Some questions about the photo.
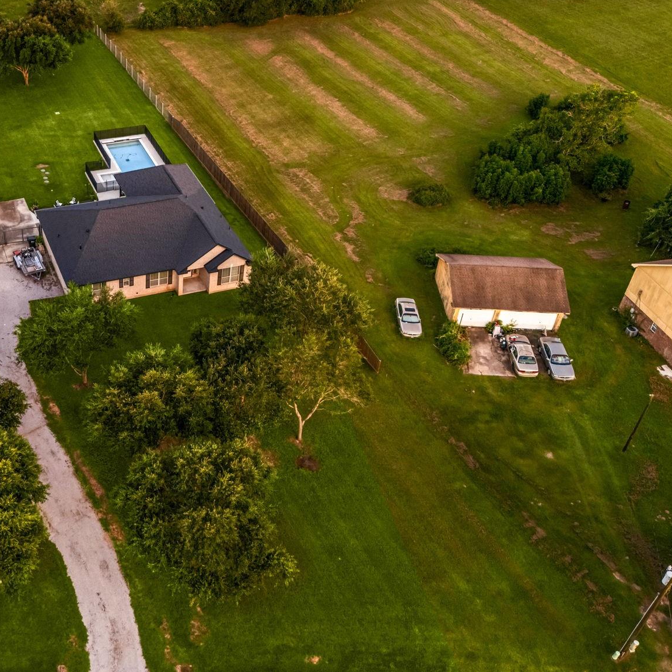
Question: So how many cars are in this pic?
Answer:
3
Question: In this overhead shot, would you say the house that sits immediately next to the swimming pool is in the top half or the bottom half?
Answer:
top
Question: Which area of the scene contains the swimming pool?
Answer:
top left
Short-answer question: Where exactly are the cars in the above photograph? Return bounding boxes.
[540,334,576,379]
[396,296,424,335]
[506,332,539,377]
